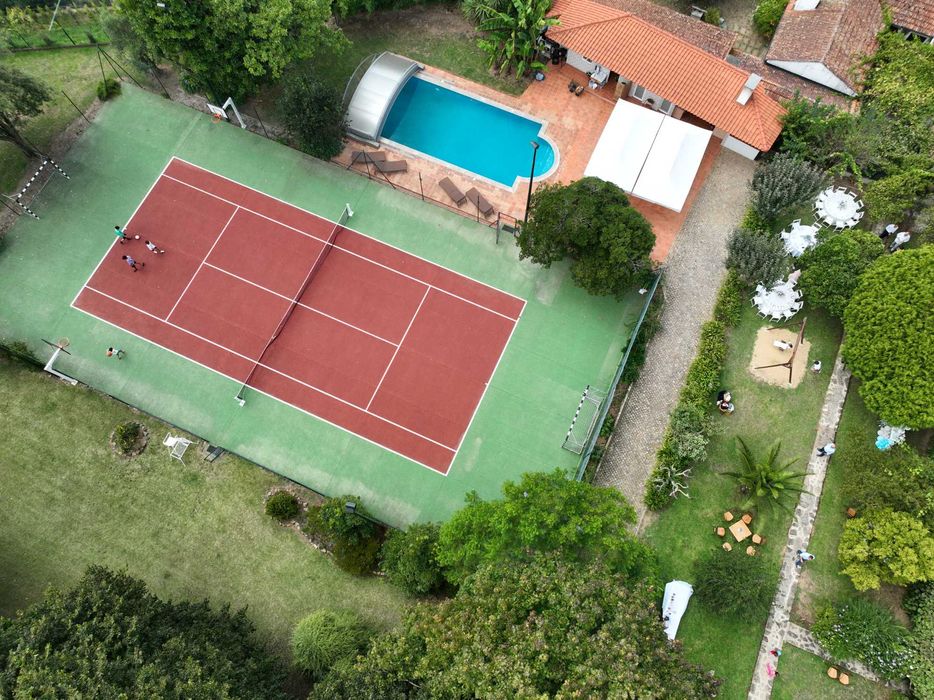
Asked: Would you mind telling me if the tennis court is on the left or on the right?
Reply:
left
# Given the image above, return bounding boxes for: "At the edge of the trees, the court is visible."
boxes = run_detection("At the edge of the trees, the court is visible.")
[0,80,649,562]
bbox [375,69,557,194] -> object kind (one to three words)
swimming pool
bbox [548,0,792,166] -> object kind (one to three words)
building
